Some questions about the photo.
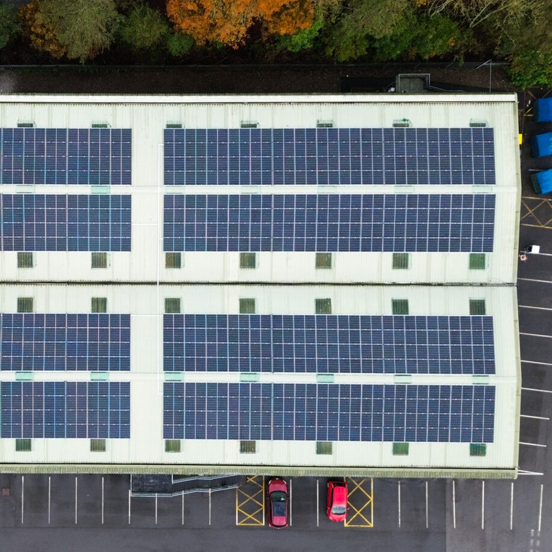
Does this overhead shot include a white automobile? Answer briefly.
No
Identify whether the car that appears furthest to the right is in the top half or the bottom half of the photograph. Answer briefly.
bottom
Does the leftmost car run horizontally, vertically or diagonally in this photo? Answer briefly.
vertically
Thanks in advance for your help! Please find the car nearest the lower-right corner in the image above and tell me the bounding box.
[324,478,349,521]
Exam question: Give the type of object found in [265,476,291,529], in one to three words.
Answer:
car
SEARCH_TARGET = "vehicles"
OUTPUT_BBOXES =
[324,478,349,521]
[265,476,291,529]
